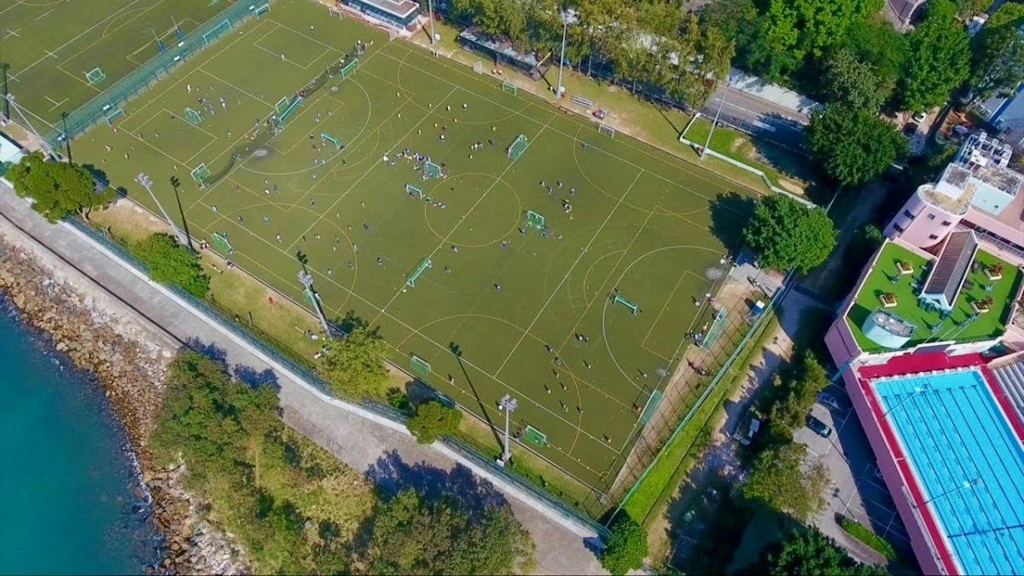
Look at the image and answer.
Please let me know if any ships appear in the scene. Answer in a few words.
No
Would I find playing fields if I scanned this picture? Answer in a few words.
Yes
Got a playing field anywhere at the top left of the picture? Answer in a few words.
Yes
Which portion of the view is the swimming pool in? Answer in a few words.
bottom right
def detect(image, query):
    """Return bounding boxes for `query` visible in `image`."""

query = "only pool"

[869,365,1024,576]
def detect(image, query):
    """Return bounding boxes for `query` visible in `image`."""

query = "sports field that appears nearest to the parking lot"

[110,0,769,499]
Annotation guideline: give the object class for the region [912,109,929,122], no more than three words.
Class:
vehicle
